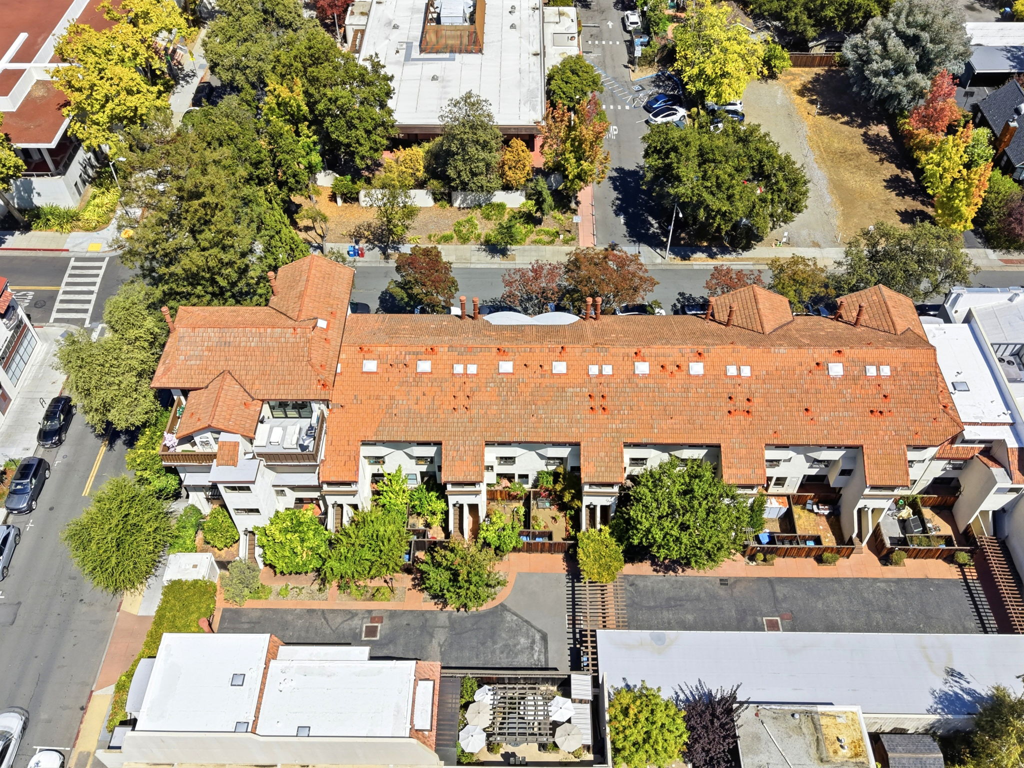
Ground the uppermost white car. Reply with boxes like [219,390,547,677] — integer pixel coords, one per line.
[624,12,641,30]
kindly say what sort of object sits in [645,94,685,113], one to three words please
car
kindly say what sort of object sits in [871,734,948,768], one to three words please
shed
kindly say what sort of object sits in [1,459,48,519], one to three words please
car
